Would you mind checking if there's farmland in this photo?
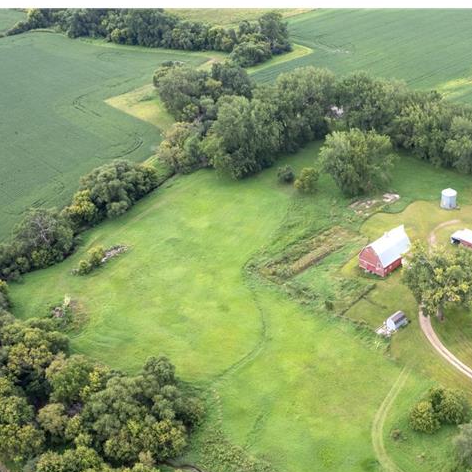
Yes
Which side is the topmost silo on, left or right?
right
